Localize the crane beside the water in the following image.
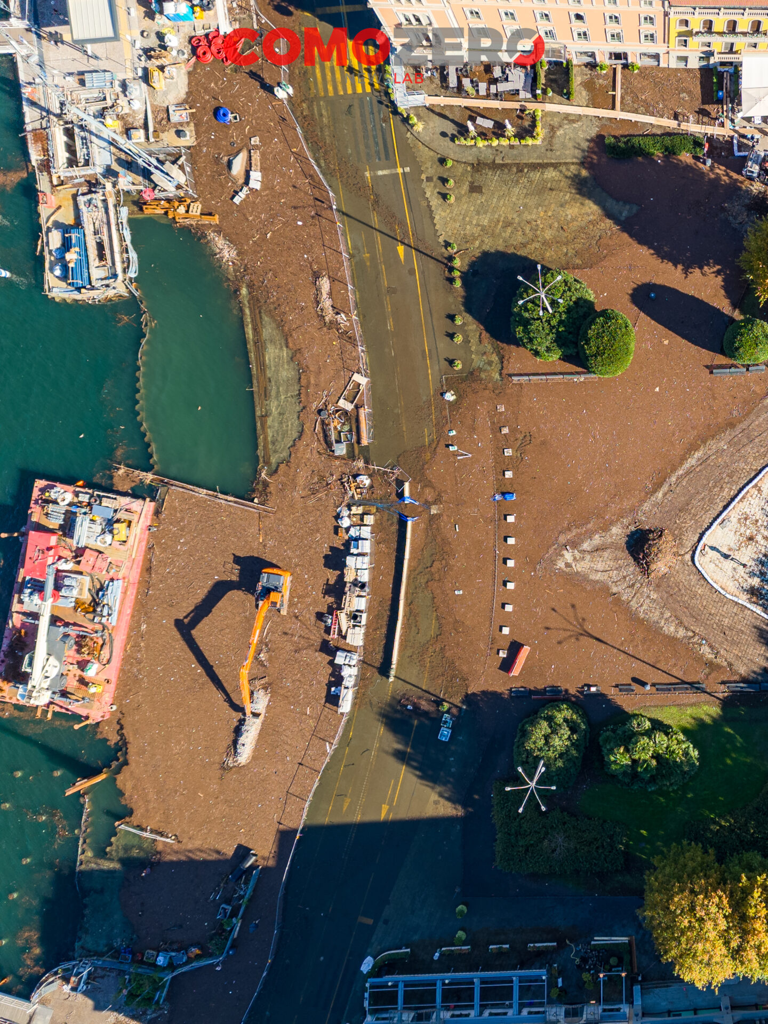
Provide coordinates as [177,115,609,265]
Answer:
[0,3,183,189]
